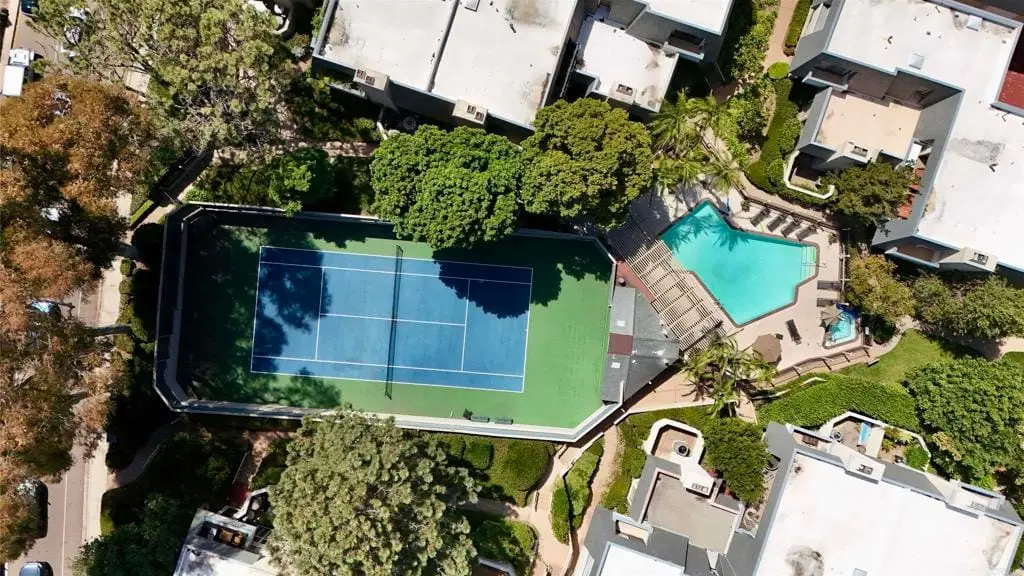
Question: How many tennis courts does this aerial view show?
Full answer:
There is 1 tennis court in the image.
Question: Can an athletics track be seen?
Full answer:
No, no athletics track can be seen from above.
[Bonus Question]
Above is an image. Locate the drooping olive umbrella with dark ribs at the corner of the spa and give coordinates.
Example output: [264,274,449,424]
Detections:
[816,306,839,327]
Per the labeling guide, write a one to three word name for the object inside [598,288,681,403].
building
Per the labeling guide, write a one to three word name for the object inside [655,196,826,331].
swimming pool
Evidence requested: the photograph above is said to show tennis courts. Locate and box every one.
[180,215,610,426]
